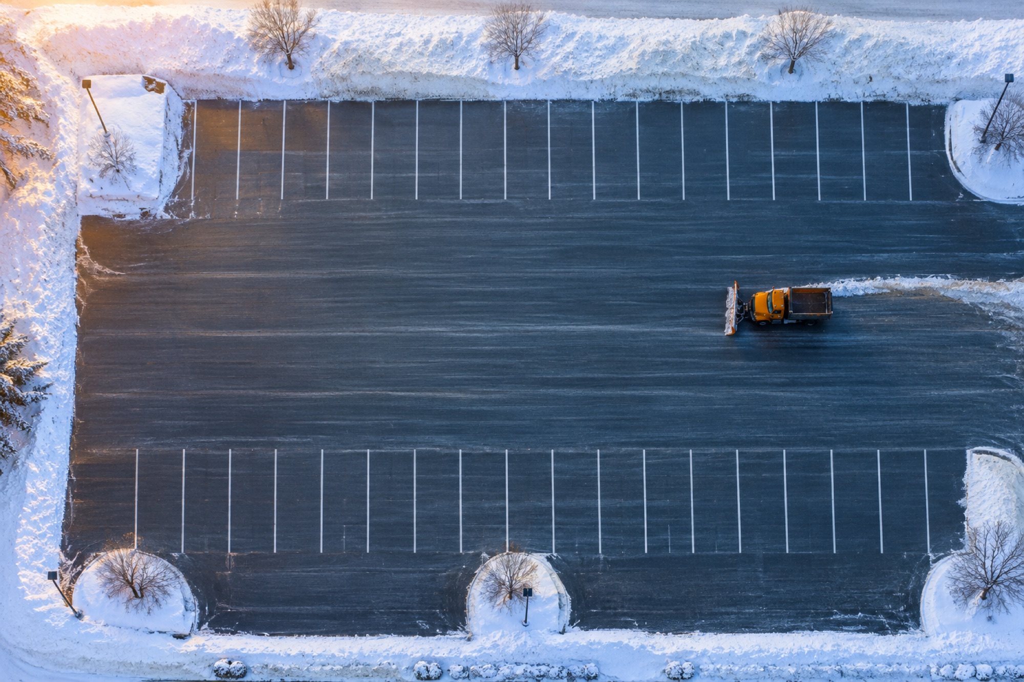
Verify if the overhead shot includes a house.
No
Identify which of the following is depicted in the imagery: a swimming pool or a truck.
truck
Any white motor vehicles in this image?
No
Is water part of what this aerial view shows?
No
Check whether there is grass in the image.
No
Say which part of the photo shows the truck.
right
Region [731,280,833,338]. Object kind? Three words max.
truck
